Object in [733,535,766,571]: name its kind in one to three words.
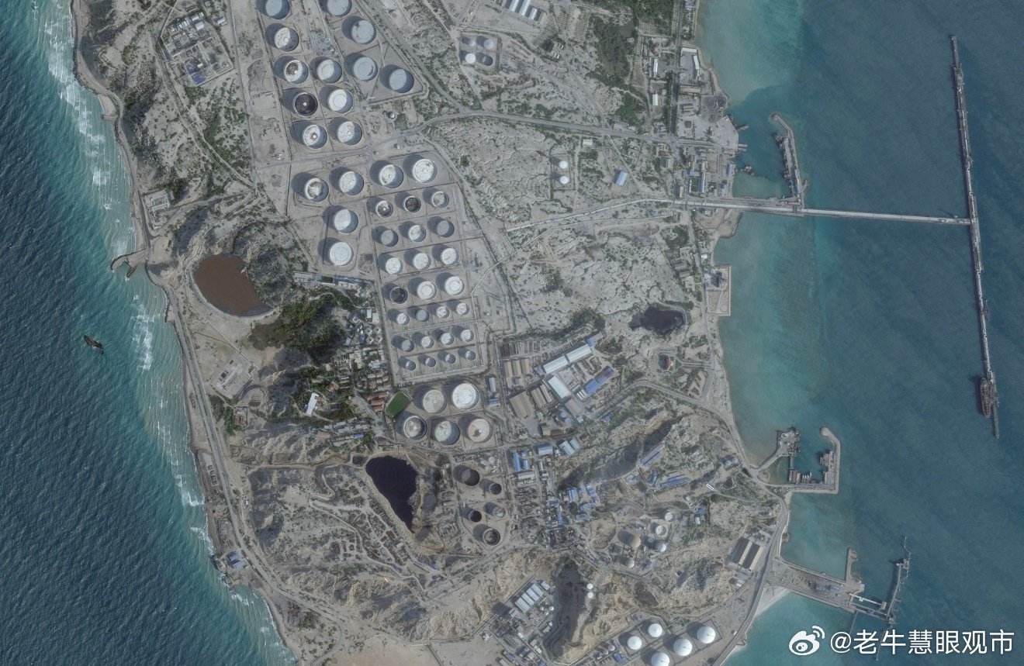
building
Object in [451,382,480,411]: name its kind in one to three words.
storage tank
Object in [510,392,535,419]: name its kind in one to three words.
building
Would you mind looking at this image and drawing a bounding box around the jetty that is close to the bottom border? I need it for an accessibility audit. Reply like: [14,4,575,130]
[780,538,911,666]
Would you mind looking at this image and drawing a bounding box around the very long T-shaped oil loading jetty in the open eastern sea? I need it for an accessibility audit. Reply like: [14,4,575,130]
[804,36,1001,437]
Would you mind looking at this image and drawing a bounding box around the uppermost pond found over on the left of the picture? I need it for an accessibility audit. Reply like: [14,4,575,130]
[194,255,271,316]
